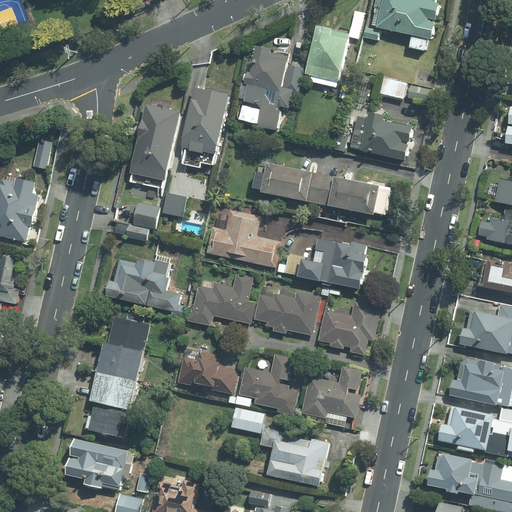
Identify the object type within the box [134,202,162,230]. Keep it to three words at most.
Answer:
building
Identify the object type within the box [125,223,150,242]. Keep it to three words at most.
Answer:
shed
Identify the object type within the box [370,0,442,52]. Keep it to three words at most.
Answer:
house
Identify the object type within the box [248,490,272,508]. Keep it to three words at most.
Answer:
building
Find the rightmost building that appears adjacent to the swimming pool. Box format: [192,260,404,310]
[206,209,282,268]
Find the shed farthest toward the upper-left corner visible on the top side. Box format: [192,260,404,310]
[32,141,52,169]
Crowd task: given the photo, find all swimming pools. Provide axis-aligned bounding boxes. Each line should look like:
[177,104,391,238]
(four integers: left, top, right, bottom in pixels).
[179,220,204,236]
